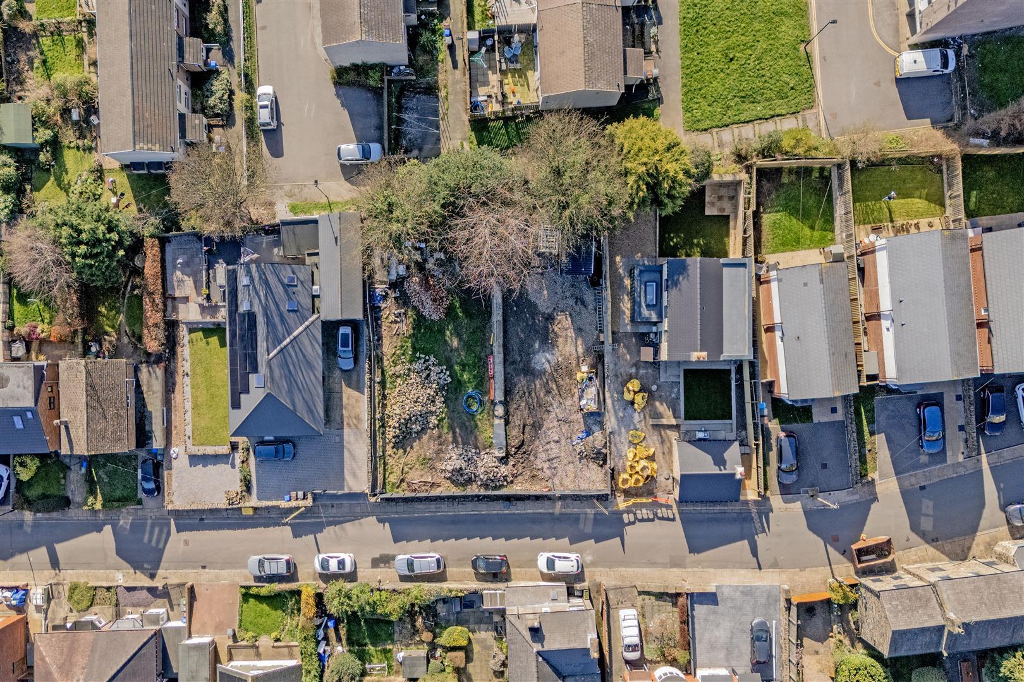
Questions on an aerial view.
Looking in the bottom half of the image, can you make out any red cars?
No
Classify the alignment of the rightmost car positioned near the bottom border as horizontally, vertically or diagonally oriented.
vertically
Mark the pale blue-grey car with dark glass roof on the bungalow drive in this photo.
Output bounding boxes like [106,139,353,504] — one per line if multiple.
[333,325,356,370]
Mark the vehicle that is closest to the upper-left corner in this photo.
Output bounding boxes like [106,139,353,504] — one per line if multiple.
[253,86,277,131]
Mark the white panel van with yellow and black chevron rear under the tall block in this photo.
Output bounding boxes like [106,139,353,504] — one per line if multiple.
[893,47,950,78]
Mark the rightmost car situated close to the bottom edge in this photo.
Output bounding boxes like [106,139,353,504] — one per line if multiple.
[749,616,773,664]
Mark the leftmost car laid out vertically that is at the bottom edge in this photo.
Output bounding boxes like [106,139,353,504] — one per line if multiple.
[619,606,643,660]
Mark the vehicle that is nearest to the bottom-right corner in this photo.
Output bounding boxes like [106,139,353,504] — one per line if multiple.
[1001,504,1024,528]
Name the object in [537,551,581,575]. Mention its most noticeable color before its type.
white car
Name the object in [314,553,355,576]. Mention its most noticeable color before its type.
white car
